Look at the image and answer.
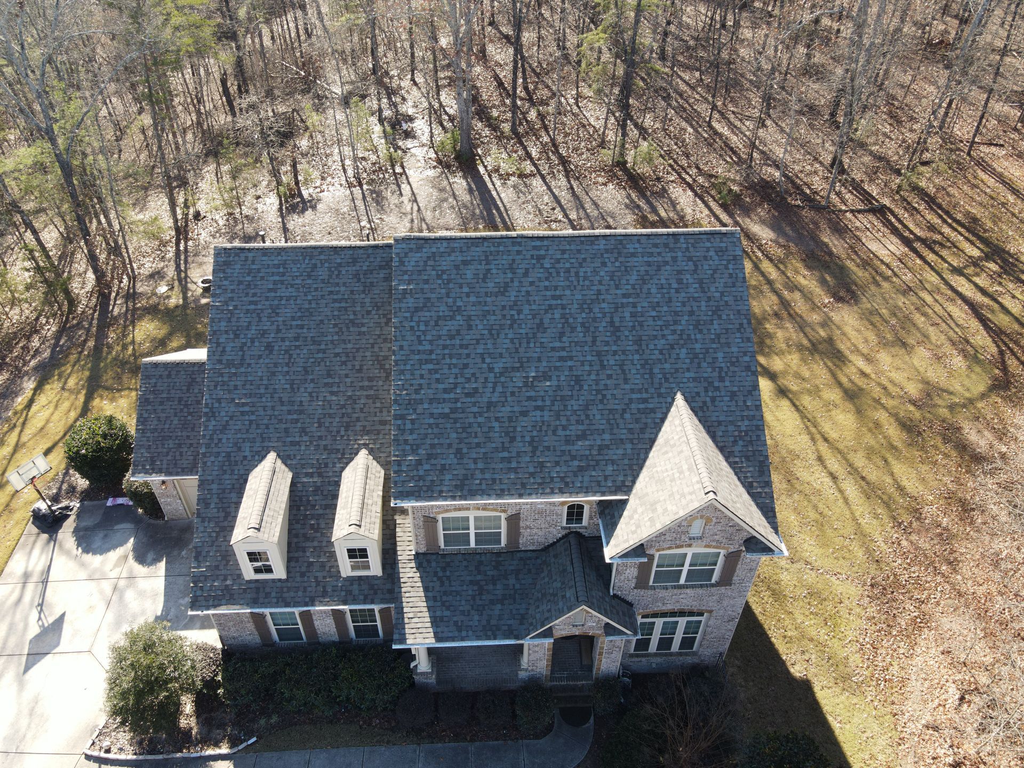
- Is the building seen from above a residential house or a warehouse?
residential house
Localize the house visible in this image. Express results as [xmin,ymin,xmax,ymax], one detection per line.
[133,226,793,718]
